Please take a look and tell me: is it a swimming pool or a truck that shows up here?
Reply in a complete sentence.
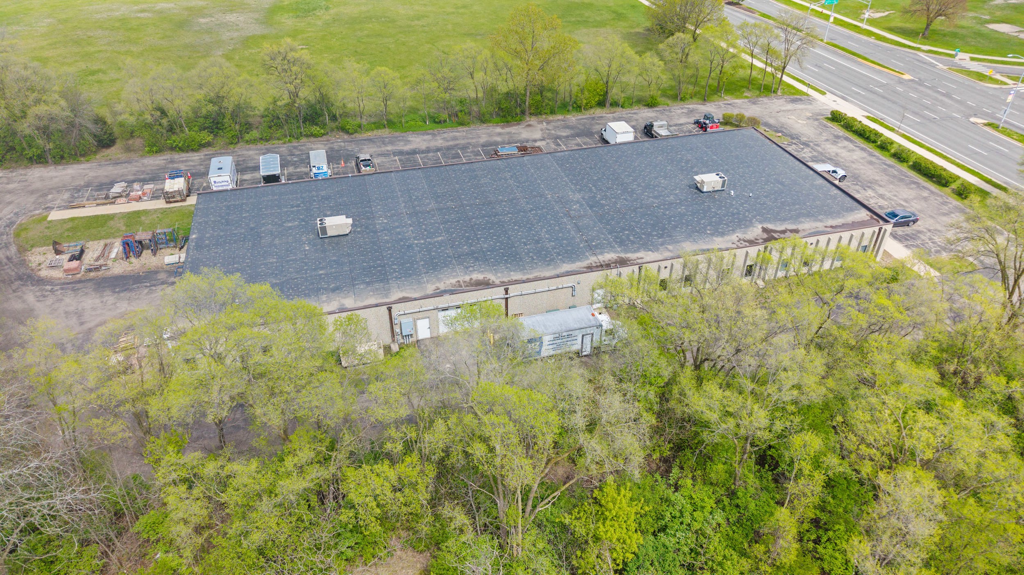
There is a truck in the scene.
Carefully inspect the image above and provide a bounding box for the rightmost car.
[883,208,922,227]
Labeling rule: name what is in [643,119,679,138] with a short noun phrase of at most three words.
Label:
vehicle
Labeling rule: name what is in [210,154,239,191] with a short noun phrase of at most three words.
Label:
trailer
